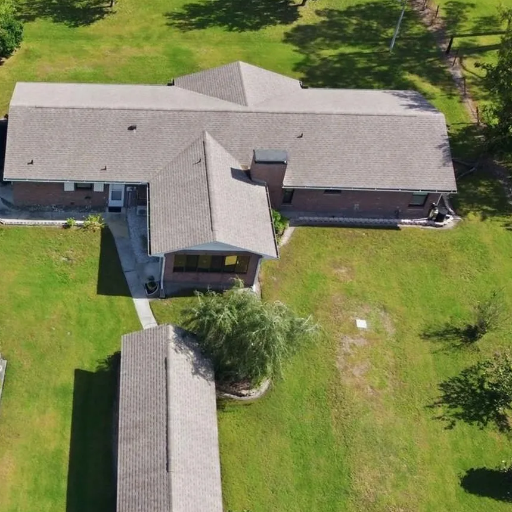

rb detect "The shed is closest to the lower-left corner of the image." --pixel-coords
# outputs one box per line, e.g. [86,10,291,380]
[116,323,224,512]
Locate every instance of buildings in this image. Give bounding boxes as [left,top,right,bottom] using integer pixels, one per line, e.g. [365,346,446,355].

[116,323,224,512]
[3,59,457,290]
